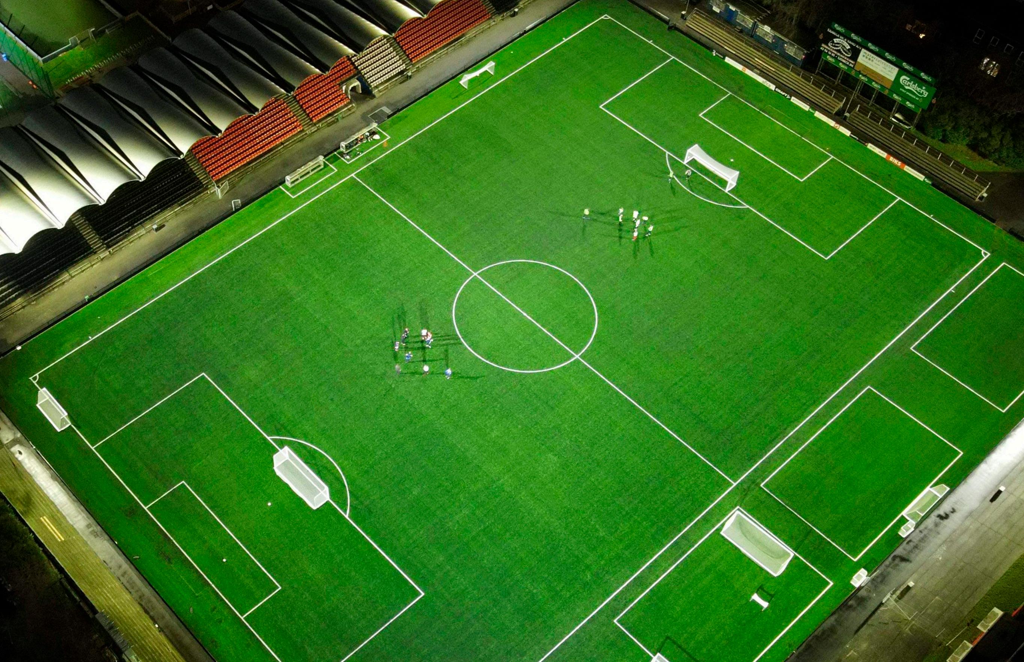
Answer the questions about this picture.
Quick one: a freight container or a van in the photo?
freight container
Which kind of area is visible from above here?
sports ground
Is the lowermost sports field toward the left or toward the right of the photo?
right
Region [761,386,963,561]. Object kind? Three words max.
sports field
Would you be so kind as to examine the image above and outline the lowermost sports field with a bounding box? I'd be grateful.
[614,506,833,662]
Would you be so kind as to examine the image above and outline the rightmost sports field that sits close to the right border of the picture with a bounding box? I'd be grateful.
[910,263,1024,412]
